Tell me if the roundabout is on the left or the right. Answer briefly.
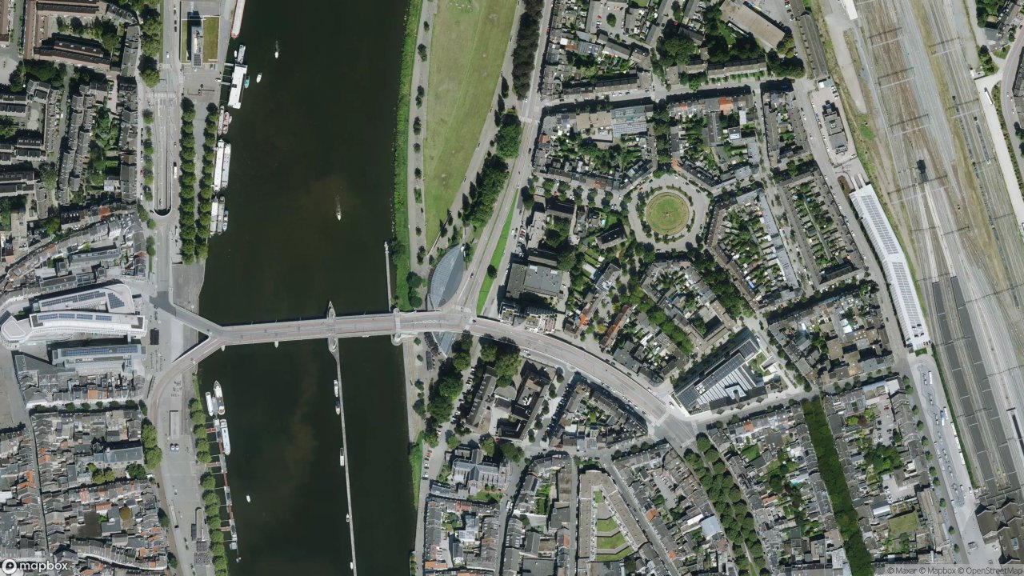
right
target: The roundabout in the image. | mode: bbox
[641,187,693,239]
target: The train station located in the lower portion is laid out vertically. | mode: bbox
[932,276,1024,576]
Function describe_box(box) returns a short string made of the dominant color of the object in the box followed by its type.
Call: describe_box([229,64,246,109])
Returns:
white boat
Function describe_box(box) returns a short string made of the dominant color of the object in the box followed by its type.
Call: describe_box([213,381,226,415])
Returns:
white boat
